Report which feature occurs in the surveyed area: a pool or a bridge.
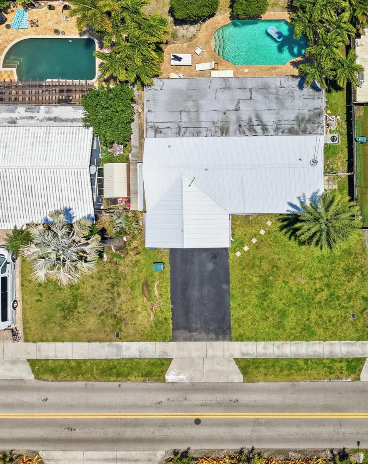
pool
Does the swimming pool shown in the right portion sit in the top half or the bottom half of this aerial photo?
top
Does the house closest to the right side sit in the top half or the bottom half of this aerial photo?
top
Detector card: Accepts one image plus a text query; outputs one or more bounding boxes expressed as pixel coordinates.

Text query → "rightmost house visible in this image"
[136,76,325,248]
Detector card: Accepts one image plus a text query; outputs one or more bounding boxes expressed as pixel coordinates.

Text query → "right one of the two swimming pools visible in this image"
[208,16,309,67]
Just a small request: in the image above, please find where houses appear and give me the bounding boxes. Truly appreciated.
[0,82,104,229]
[136,76,325,248]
